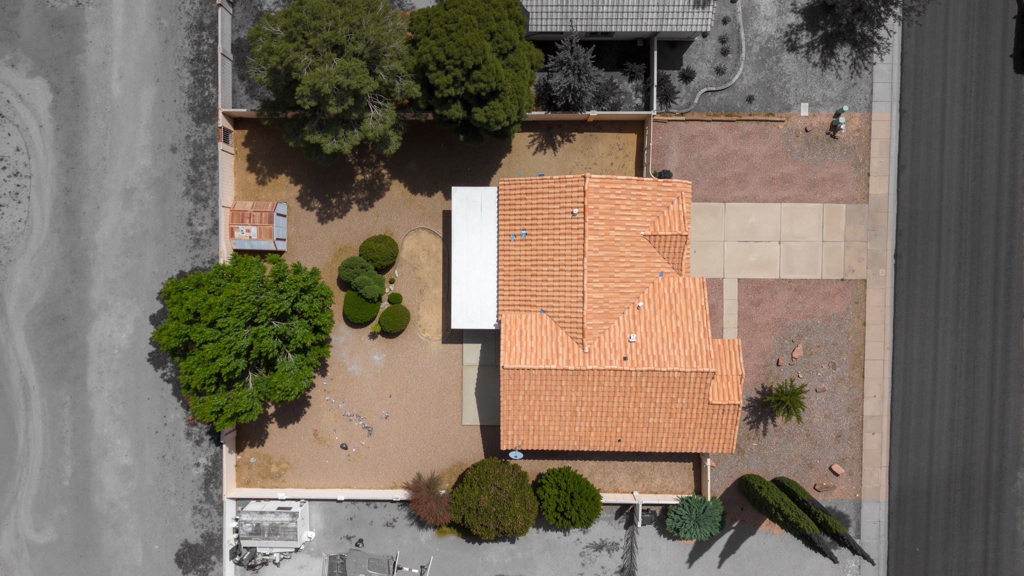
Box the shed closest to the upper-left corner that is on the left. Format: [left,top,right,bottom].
[229,201,286,250]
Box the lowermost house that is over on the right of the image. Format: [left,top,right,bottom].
[497,174,745,453]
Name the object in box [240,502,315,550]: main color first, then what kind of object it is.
white vehicle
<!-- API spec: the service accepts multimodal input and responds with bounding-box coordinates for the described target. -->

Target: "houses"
[523,0,714,43]
[497,174,745,453]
